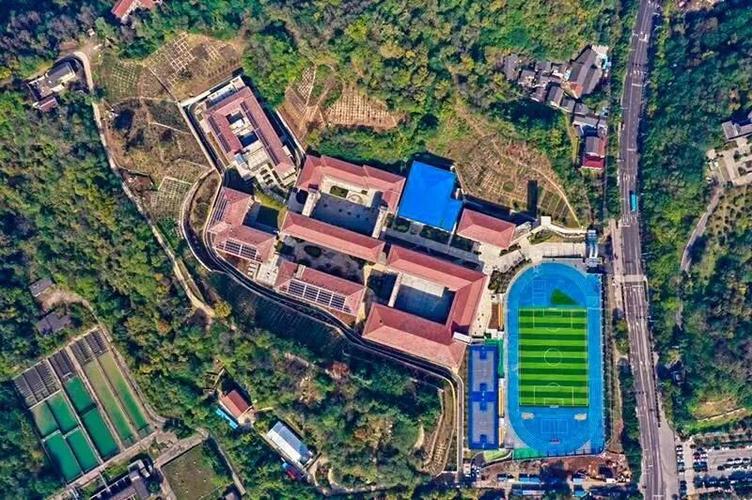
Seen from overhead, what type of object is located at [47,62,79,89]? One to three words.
house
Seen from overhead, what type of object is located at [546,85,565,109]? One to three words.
house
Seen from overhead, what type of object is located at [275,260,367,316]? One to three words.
building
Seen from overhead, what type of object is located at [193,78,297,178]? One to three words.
building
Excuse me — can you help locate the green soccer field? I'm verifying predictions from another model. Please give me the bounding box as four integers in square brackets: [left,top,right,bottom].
[519,308,588,407]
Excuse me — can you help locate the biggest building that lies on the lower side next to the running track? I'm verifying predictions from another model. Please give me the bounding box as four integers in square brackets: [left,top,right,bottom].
[363,245,488,370]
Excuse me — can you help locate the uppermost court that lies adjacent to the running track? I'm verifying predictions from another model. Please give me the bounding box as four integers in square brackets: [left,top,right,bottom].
[472,350,494,391]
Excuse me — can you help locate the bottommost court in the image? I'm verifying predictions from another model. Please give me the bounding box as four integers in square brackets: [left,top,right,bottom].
[472,402,494,442]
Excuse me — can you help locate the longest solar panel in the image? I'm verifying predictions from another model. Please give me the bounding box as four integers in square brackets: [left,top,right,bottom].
[209,197,228,228]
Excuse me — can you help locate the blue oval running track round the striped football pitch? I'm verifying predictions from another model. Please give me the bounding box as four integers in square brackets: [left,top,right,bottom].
[503,261,602,458]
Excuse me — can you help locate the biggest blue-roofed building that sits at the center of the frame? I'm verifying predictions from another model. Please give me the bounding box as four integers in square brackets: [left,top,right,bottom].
[398,161,464,233]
